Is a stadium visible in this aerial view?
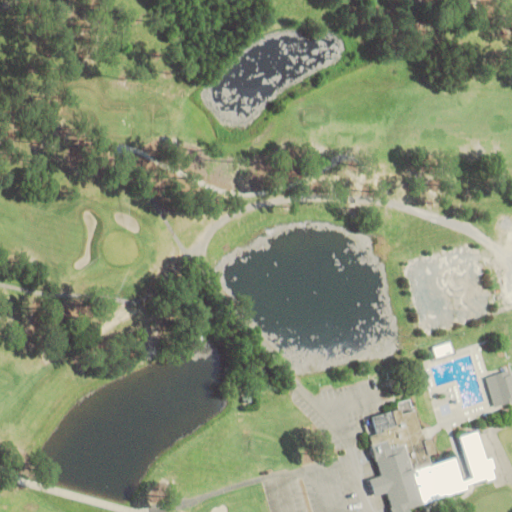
No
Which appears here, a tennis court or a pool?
pool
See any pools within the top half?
No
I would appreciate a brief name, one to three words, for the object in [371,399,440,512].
building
